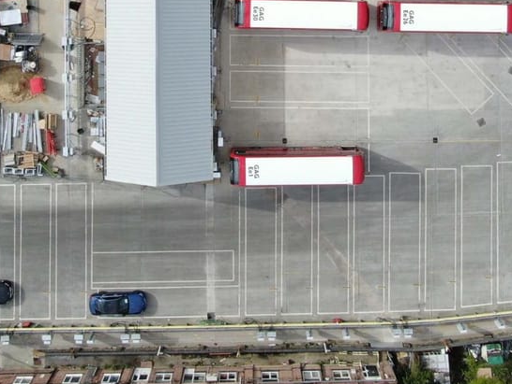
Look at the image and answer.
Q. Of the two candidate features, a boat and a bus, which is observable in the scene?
bus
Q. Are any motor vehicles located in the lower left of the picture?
Yes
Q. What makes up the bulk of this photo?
paved ground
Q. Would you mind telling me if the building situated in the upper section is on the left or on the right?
left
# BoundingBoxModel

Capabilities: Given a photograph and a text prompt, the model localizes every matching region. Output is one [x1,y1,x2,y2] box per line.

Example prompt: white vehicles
[234,0,368,32]
[231,144,364,184]
[375,0,512,36]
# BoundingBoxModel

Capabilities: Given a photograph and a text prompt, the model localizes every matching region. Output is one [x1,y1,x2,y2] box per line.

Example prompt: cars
[0,280,13,305]
[90,289,146,318]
